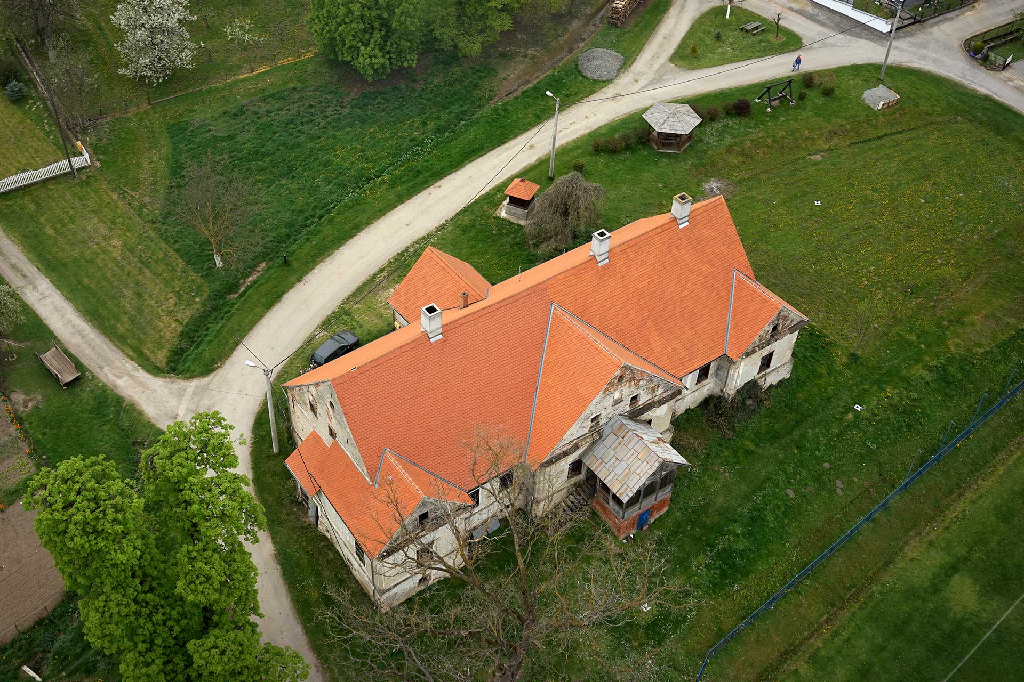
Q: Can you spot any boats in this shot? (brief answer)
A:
No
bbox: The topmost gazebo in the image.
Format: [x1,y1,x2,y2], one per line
[643,103,701,152]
